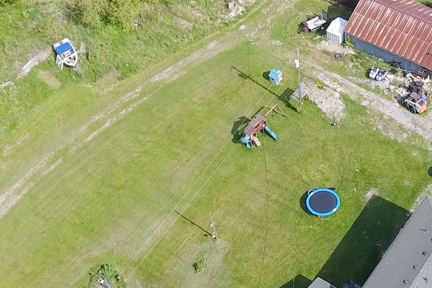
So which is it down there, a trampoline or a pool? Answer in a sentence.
Of the two, only a trampoline appears.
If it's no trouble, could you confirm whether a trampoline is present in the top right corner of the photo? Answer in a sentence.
No, no trampoline is visible in the top right corner of the photo.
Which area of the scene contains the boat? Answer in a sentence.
The boat is in the top left part of the image.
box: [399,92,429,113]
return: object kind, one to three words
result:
work vehicle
